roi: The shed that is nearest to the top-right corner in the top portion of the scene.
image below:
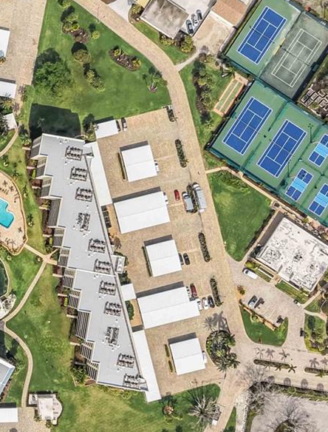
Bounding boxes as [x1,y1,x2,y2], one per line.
[209,0,247,28]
